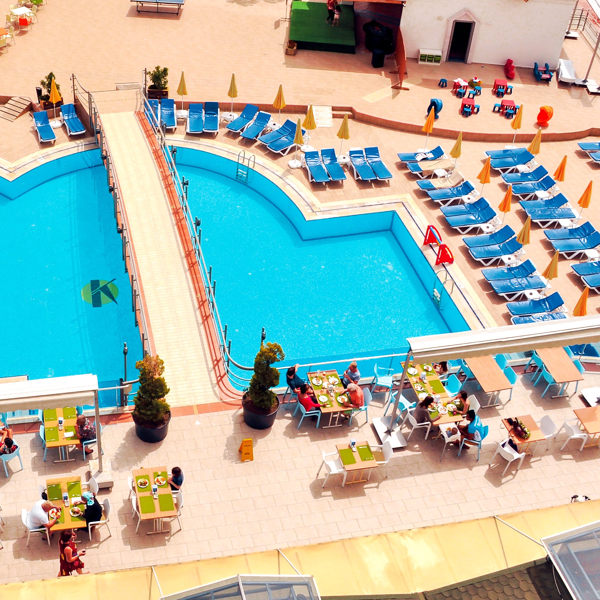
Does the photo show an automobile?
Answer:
No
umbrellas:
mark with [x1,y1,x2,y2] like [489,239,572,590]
[488,184,512,233]
[298,103,315,150]
[502,104,523,148]
[416,106,433,151]
[176,70,187,117]
[549,153,568,198]
[442,132,462,177]
[571,179,594,226]
[508,213,531,265]
[286,116,303,167]
[336,112,350,156]
[540,249,561,295]
[273,83,284,123]
[224,71,238,116]
[570,285,590,316]
[476,156,492,194]
[526,126,541,169]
